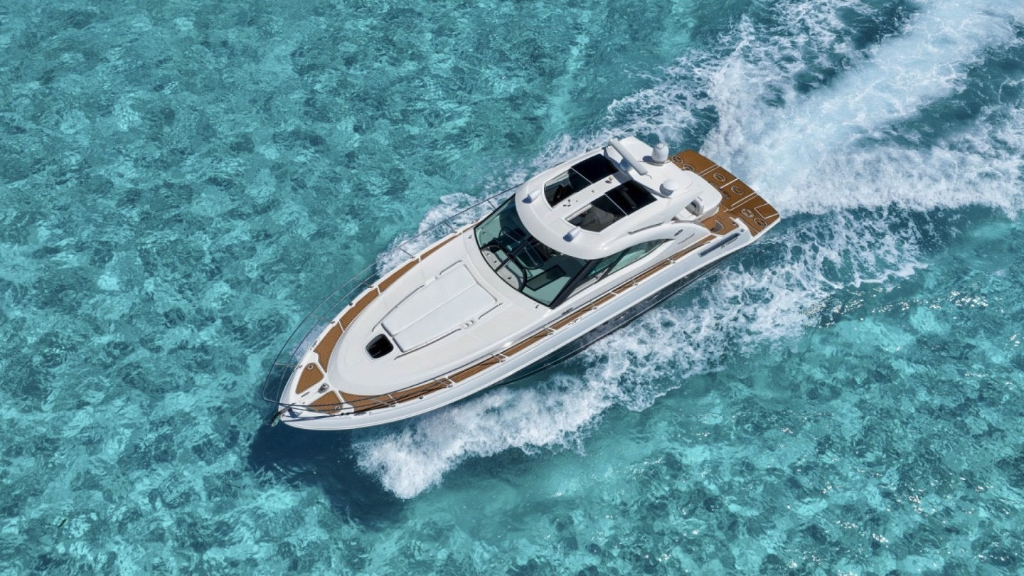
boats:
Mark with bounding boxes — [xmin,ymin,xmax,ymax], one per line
[257,130,780,438]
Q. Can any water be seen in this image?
Yes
